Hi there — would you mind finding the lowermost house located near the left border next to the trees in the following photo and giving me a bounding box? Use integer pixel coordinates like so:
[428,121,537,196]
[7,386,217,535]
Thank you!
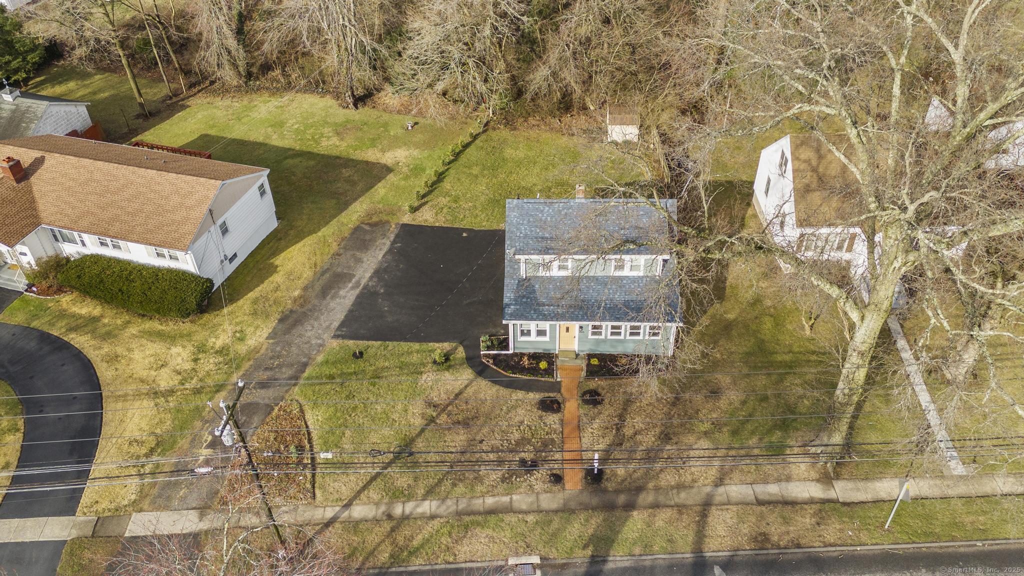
[0,133,277,300]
